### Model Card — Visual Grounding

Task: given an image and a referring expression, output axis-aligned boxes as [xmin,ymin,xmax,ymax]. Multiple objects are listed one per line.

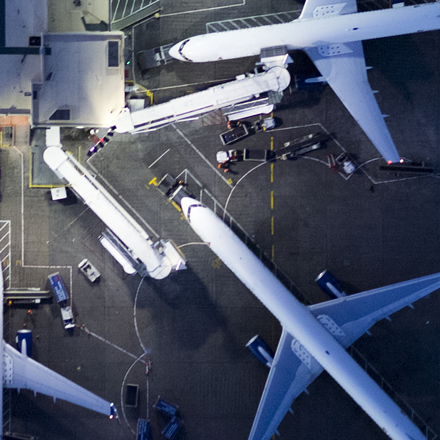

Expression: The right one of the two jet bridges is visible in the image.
[116,54,297,139]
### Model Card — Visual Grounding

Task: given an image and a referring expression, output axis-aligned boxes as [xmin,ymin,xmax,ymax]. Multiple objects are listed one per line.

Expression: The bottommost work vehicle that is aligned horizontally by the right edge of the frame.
[381,158,433,174]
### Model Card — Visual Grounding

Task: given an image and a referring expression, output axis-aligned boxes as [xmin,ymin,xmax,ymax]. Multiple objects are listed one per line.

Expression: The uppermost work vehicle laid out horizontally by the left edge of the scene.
[4,288,54,302]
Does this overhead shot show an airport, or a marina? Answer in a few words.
airport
